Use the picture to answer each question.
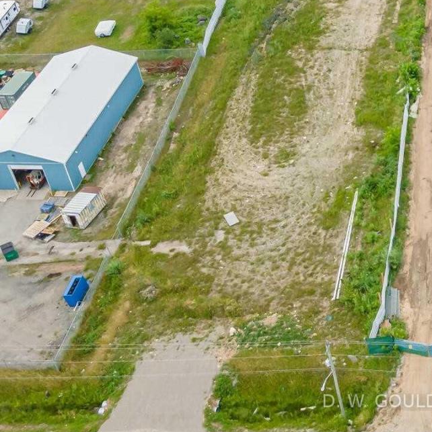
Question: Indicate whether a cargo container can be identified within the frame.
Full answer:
Yes, you can see a cargo container in this photo.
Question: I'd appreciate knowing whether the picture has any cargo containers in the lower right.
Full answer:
No, the scene shows no cargo container in the lower right.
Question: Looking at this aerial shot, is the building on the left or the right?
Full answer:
It is on the left.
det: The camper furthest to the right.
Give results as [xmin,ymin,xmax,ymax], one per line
[90,21,116,40]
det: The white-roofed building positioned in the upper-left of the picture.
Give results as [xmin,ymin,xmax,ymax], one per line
[0,43,140,192]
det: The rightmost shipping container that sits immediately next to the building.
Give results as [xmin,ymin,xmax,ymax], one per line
[58,174,112,229]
